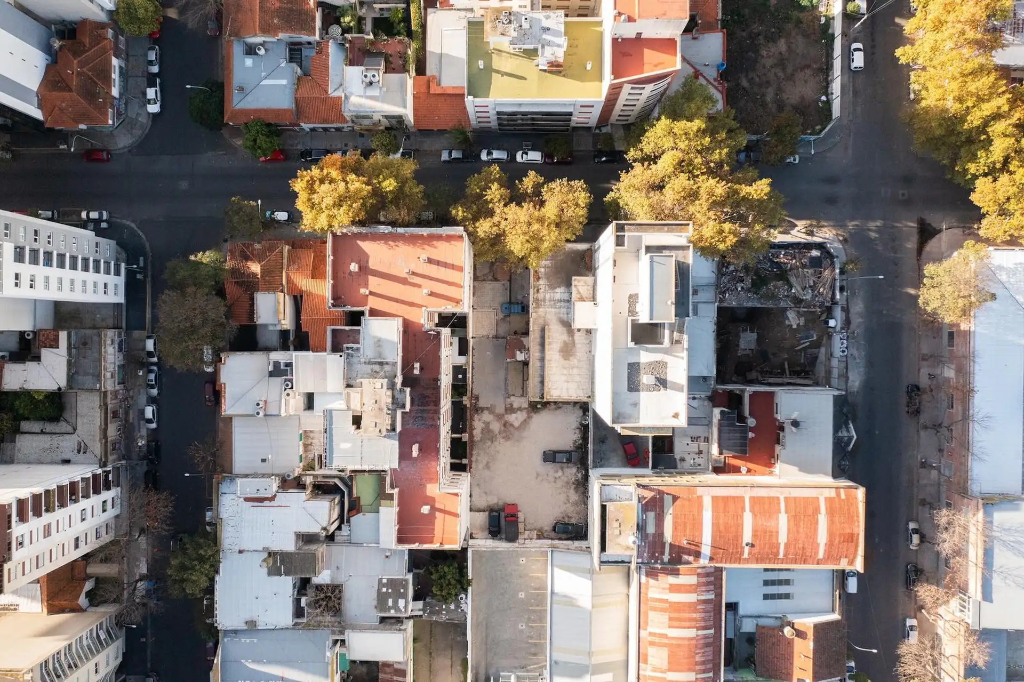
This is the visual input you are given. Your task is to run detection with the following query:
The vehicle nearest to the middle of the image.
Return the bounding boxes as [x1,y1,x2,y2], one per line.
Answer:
[501,302,527,314]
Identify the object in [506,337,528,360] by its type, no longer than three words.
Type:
shed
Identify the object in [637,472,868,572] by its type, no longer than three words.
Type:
building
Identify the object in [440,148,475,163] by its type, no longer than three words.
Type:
vehicle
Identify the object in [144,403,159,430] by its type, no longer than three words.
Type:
car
